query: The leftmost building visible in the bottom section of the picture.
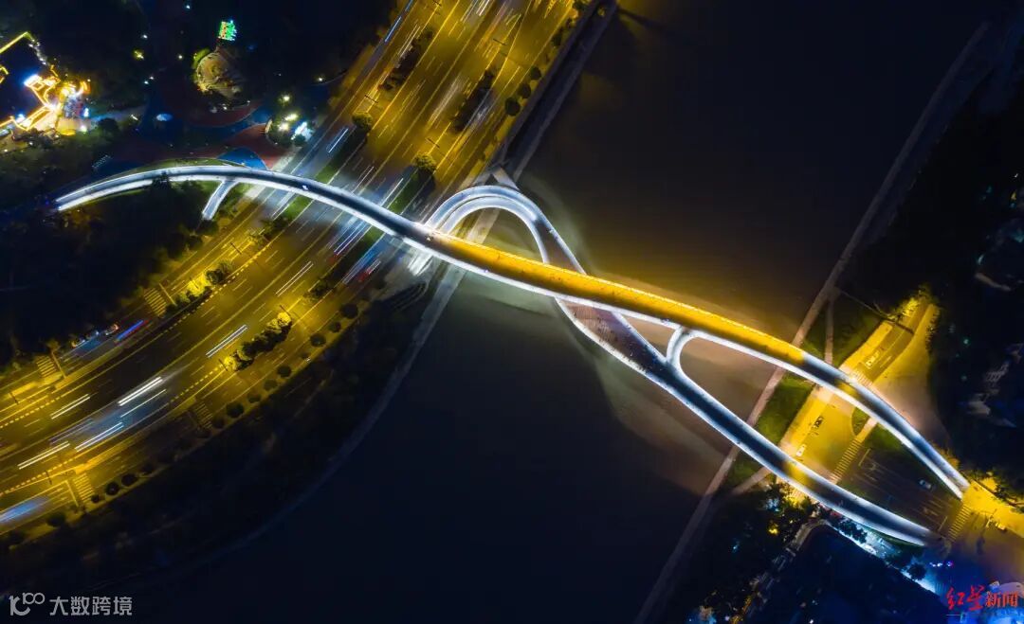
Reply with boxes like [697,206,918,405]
[719,503,950,624]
